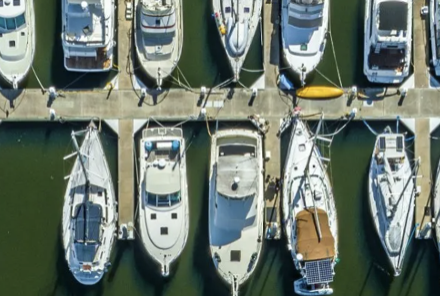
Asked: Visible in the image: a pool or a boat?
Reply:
boat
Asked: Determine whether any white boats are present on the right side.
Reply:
Yes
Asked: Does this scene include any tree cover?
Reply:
No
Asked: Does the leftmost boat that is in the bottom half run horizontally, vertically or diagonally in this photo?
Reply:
vertically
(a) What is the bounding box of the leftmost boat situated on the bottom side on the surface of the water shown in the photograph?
[61,117,117,286]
